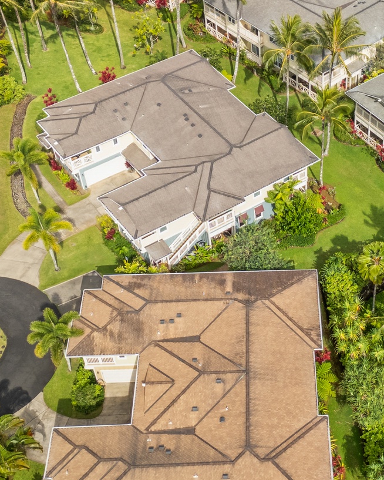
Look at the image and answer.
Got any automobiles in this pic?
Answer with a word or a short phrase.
No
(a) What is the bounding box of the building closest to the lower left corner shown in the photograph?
[43,269,334,480]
